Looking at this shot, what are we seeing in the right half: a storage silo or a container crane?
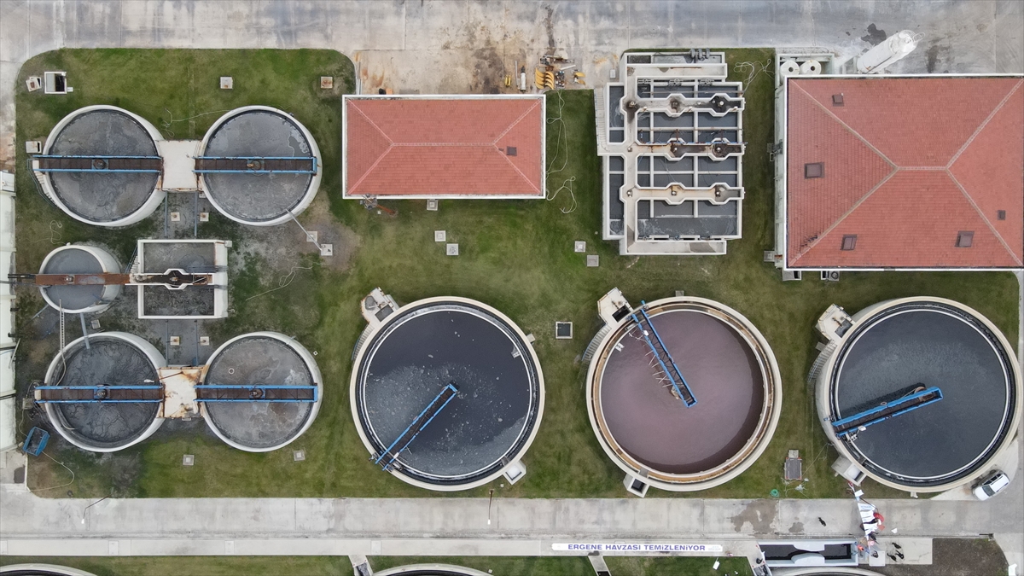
storage silo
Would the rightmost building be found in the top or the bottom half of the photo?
top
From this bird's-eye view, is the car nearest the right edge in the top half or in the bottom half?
bottom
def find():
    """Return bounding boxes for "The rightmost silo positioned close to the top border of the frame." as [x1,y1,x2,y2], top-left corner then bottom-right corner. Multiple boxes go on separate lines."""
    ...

[842,26,930,75]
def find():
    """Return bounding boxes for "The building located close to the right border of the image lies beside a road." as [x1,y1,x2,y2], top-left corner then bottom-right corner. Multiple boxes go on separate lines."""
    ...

[767,75,1024,270]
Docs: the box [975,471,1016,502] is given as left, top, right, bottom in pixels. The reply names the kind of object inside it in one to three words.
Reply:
car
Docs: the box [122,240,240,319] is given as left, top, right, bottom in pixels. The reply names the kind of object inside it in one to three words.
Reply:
storage tank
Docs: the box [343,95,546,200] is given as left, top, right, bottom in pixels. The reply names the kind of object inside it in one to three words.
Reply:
building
